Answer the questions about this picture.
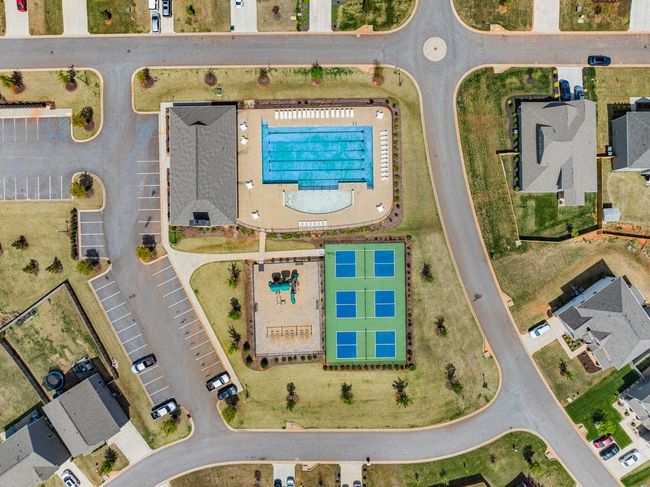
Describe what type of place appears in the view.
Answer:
residential area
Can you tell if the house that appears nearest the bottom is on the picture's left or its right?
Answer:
left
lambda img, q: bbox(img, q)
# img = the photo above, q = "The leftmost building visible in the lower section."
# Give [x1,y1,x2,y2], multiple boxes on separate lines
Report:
[0,419,69,487]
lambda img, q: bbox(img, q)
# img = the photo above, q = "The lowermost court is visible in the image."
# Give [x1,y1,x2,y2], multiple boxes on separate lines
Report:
[336,328,396,361]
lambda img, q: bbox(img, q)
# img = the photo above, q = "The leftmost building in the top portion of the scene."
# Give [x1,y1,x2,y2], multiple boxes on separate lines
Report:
[169,105,238,227]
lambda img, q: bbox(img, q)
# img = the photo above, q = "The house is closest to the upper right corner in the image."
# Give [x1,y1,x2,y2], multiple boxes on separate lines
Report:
[614,98,650,175]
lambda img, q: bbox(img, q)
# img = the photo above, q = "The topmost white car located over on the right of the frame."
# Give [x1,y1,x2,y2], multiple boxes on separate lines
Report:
[529,322,552,339]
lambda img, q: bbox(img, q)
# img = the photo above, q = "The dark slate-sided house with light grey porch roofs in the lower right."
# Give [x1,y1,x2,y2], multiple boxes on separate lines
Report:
[621,377,650,444]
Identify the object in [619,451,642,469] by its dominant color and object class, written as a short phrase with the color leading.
white car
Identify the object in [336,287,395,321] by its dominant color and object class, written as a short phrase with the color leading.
blue sports court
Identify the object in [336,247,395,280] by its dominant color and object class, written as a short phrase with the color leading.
blue sports court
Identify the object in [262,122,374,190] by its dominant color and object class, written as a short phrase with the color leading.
blue swimming pool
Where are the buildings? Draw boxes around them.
[0,419,69,487]
[42,374,127,459]
[169,105,238,227]
[554,277,650,377]
[614,98,650,175]
[602,208,621,222]
[517,97,597,206]
[621,377,650,444]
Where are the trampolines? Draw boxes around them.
[46,371,65,387]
